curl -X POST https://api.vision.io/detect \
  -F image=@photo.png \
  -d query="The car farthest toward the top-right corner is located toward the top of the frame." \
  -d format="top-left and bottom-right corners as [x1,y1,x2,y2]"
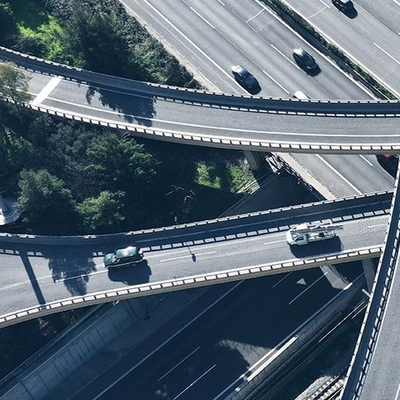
[329,0,356,13]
